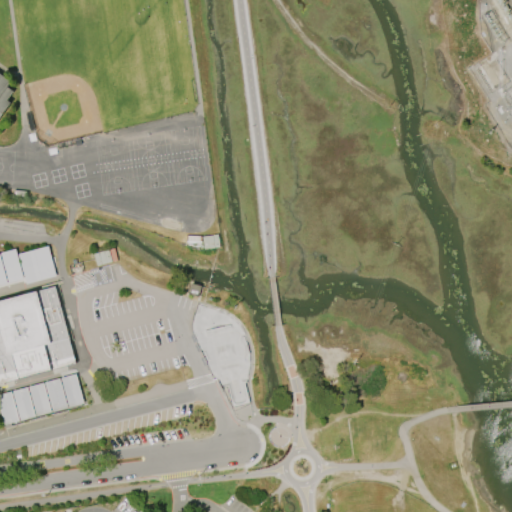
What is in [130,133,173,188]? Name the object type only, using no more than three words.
basketball court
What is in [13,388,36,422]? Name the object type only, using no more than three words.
building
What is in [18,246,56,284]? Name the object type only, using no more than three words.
building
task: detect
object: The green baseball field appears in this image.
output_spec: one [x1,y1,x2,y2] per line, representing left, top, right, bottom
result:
[16,0,203,144]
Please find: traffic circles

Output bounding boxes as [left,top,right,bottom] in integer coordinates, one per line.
[256,431,334,512]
